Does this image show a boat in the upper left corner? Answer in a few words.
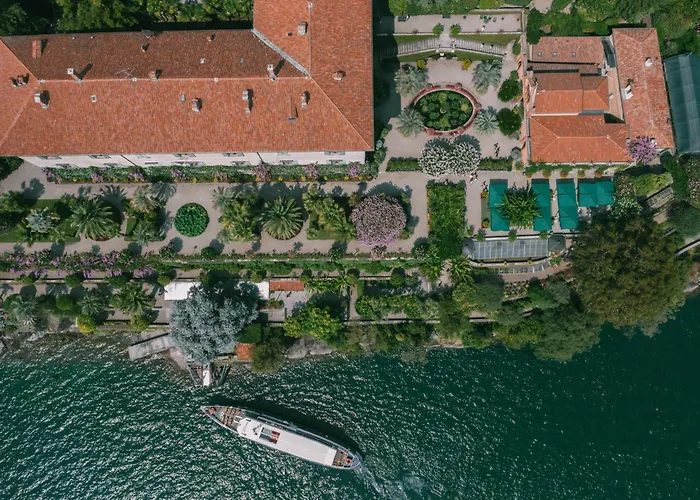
No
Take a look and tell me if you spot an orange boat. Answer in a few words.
No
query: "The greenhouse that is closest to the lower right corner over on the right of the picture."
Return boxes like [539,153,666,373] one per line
[468,239,550,263]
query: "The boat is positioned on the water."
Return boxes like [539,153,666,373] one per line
[199,405,364,475]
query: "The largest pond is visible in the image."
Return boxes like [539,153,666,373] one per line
[415,84,479,135]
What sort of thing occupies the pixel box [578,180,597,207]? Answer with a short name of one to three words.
umbrella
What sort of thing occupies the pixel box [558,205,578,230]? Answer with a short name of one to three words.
umbrella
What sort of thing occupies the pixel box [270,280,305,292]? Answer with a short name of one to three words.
shed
